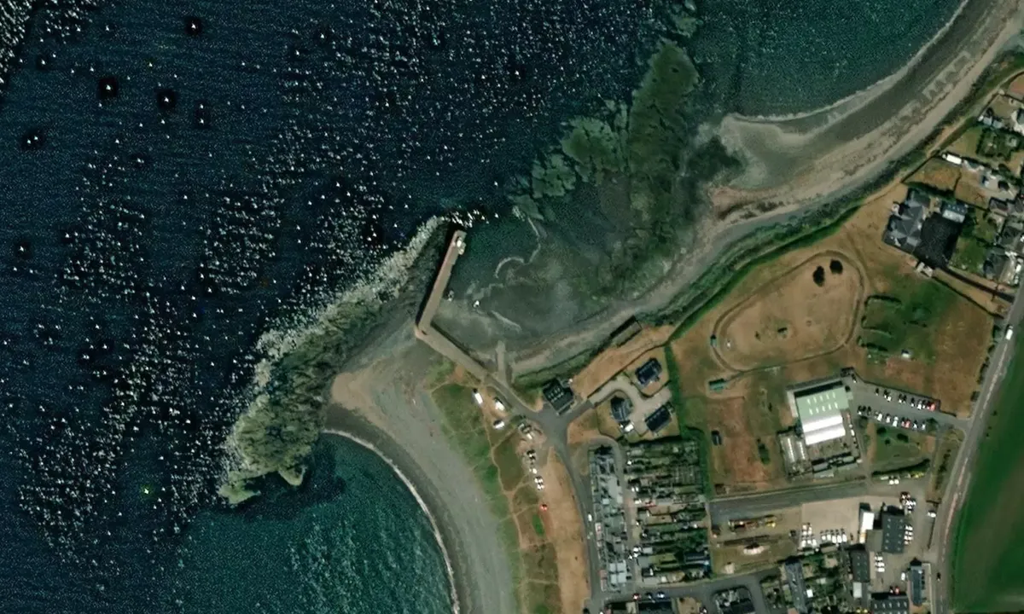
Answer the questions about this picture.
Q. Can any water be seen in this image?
Yes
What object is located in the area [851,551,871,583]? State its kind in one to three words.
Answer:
building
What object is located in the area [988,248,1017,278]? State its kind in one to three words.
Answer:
house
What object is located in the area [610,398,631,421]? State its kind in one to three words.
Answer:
house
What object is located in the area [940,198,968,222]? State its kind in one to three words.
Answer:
shed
